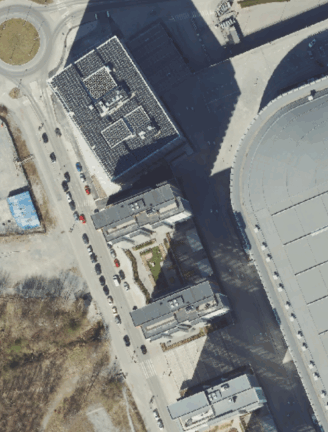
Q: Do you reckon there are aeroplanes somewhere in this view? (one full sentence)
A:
No, no aeroplane is visible in the scene.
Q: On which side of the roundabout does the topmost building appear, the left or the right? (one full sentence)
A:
The topmost building appears to the right of the roundabout in this view.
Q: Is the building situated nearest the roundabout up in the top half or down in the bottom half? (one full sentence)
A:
It is in the top half that the building situated nearest the roundabout appears.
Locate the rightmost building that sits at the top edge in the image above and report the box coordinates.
[127,21,197,109]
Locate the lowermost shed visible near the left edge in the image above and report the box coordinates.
[8,192,41,229]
